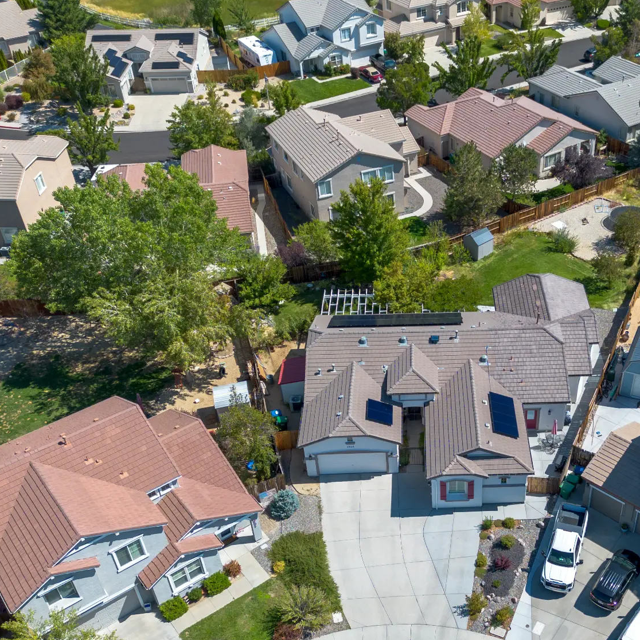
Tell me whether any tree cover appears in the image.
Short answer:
Yes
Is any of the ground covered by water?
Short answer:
No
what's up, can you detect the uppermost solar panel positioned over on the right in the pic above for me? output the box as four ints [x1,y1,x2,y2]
[330,314,461,327]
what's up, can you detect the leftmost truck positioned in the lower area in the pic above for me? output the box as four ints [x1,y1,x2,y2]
[541,506,587,591]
